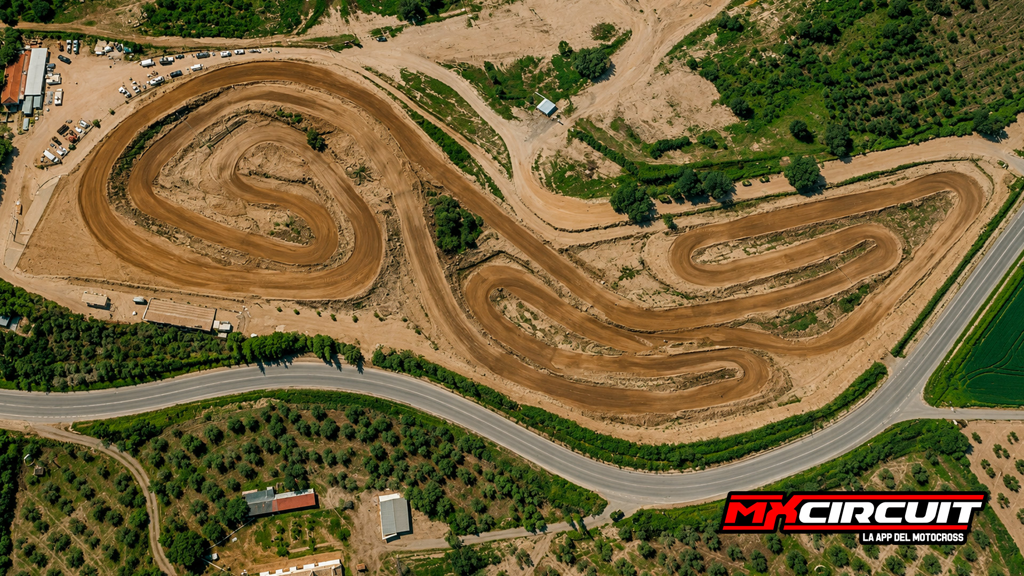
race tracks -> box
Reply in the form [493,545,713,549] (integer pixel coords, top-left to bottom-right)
[78,61,983,414]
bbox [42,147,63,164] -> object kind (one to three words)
vehicle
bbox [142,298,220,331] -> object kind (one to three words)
barn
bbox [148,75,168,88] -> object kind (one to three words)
vehicle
